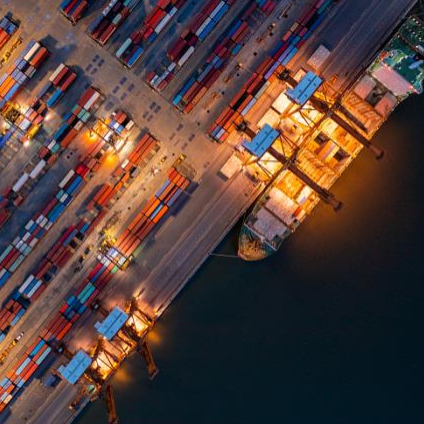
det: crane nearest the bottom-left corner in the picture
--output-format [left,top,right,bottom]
[52,332,126,424]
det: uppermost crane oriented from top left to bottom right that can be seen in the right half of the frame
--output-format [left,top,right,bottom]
[273,68,393,169]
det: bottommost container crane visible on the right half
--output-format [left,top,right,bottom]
[231,119,351,221]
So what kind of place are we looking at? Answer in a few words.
port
